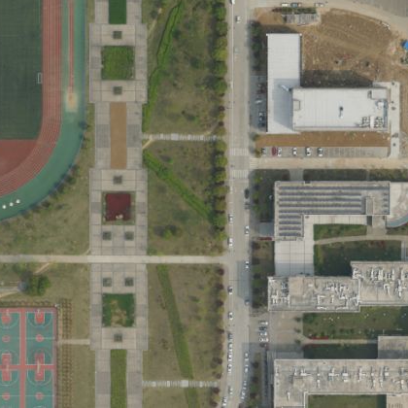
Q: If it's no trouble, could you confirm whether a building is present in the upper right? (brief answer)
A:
Yes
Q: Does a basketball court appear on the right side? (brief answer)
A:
No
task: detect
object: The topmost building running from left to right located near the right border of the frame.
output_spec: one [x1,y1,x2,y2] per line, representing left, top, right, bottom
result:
[293,87,390,130]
